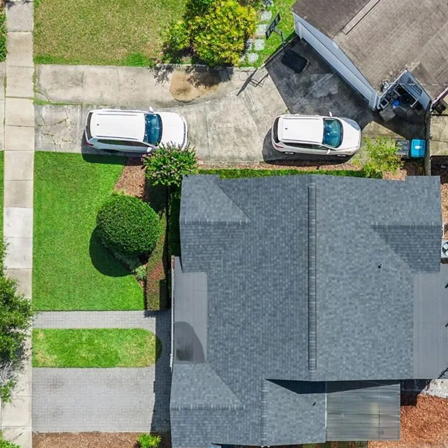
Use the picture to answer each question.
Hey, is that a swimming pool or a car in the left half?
car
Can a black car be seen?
No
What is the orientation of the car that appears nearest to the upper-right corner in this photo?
from side to side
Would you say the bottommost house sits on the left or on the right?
right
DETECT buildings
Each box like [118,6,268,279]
[166,176,448,448]
[294,0,448,111]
